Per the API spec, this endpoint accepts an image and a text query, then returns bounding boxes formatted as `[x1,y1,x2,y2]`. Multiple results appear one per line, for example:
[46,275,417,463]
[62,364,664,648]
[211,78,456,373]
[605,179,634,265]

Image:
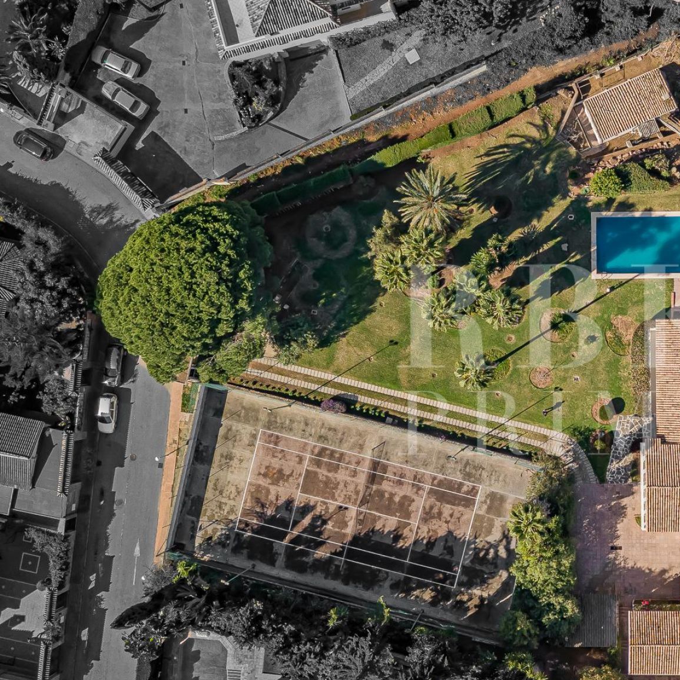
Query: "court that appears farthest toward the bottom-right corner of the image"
[178,389,551,636]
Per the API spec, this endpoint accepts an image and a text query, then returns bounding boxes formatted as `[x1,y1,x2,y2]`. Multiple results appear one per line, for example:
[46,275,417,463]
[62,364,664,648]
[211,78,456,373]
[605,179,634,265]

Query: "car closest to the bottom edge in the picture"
[96,393,120,432]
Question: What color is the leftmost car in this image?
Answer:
black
